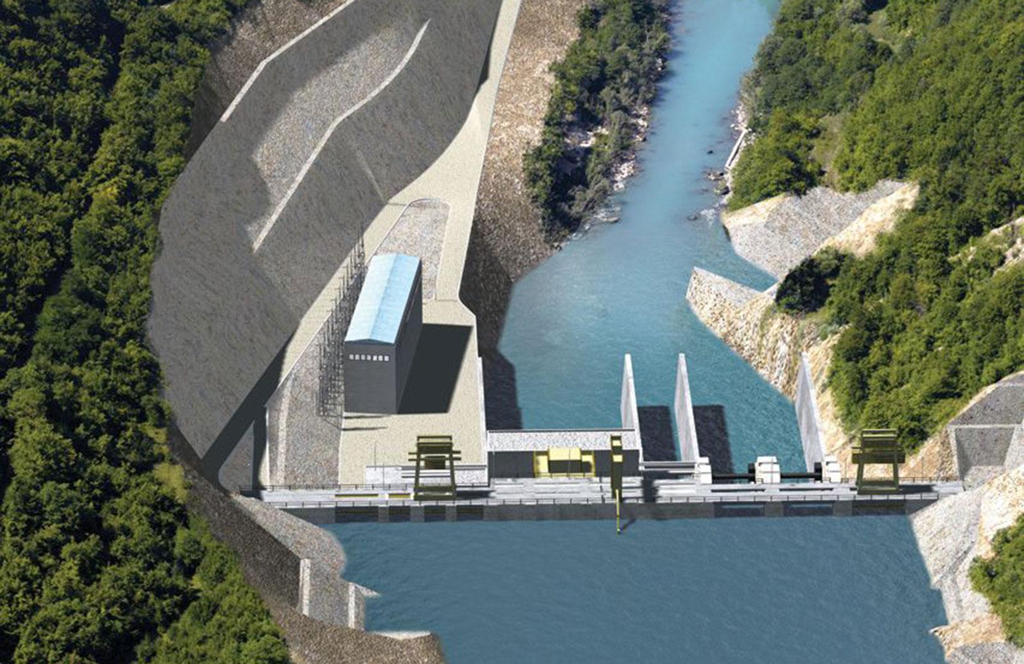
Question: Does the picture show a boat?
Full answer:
No, the frame has no boat in it.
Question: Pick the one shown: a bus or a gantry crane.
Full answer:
The image shows a gantry crane.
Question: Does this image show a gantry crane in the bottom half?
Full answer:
Yes, the scene does show a gantry crane in the bottom half.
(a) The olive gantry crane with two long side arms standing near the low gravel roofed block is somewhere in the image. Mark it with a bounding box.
[408,436,460,499]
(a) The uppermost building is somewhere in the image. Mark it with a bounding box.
[340,256,423,415]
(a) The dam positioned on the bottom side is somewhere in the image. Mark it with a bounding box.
[257,474,956,521]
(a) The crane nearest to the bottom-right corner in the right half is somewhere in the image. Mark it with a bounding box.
[854,434,909,495]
